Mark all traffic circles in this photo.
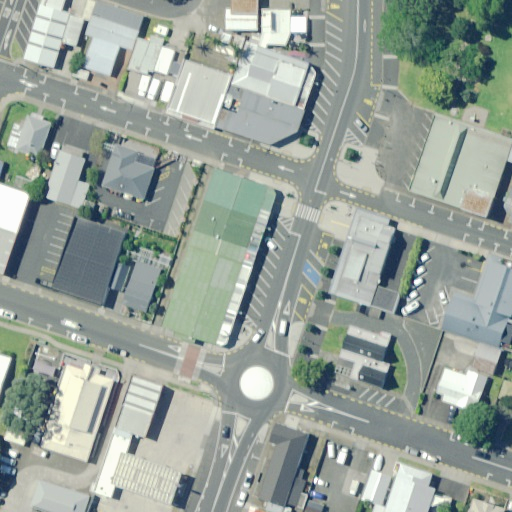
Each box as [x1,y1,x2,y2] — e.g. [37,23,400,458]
[228,354,286,412]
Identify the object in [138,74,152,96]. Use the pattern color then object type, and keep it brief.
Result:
white vehicle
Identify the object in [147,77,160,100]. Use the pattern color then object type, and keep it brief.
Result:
white vehicle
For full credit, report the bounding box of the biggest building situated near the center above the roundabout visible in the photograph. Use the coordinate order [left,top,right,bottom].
[162,168,276,347]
